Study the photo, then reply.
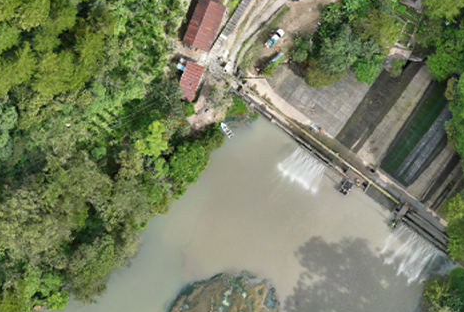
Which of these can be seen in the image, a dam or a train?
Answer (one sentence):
The one in the frame is a dam.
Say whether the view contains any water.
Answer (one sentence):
Yes, the picture does contain water.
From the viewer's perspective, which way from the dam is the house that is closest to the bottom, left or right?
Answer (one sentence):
Compared with the dam, the house that is closest to the bottom is located further to the left.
